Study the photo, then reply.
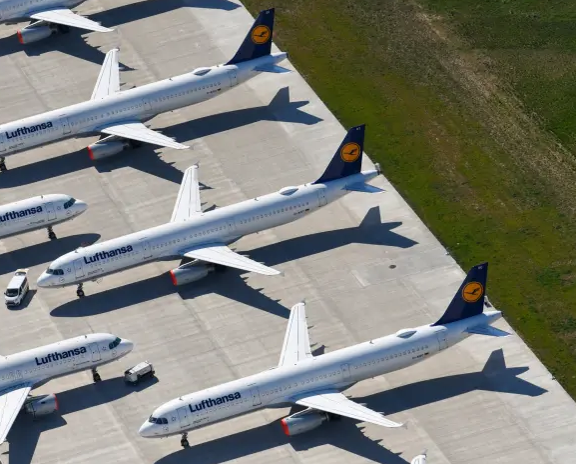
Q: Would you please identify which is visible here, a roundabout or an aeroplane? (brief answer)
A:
aeroplane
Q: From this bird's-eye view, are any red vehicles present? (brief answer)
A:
No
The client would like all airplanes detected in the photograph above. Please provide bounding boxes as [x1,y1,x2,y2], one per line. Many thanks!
[0,193,88,241]
[140,263,512,446]
[0,0,119,44]
[36,125,387,296]
[0,8,295,170]
[0,334,133,445]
